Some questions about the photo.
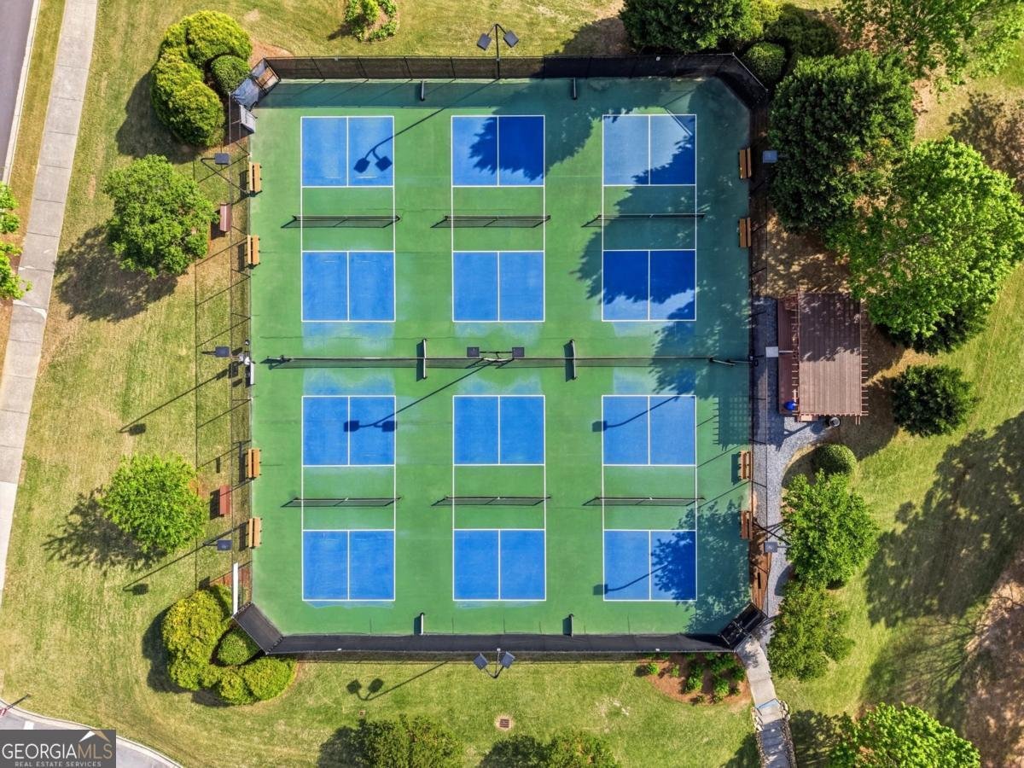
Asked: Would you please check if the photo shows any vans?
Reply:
No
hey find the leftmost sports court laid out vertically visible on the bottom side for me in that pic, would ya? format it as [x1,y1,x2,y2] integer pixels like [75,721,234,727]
[302,396,396,601]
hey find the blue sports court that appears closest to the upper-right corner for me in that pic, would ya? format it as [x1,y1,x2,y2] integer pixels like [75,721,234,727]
[602,114,697,321]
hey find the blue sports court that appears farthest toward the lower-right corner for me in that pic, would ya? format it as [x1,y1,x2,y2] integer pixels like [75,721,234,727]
[603,395,697,601]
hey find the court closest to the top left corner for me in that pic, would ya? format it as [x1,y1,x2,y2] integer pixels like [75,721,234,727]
[301,116,395,322]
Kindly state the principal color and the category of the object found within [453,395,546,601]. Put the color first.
blue sports court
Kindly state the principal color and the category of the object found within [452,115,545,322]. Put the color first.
blue sports court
